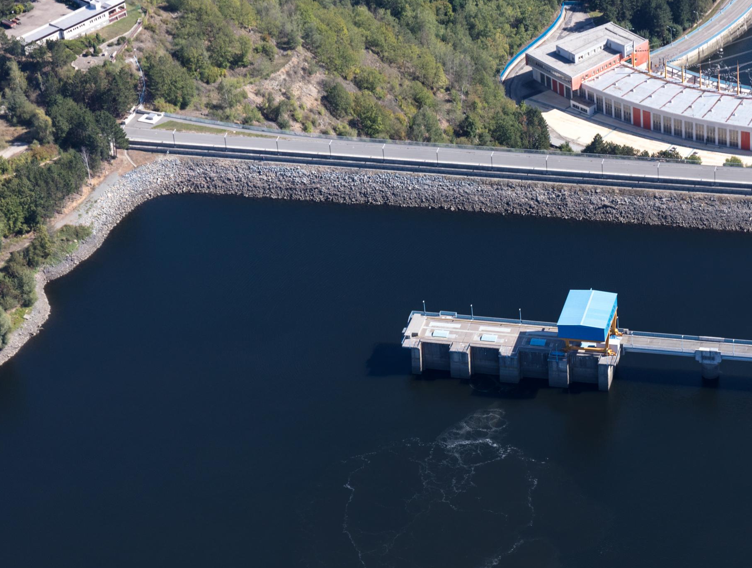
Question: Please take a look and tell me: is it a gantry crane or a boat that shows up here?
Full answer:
The one in the frame is a gantry crane.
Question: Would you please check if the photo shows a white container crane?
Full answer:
No, I find no white container crane anywhere in the image.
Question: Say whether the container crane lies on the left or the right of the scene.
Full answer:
The container crane appears in the right half of the scene.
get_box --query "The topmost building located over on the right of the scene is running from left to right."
[525,21,649,96]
